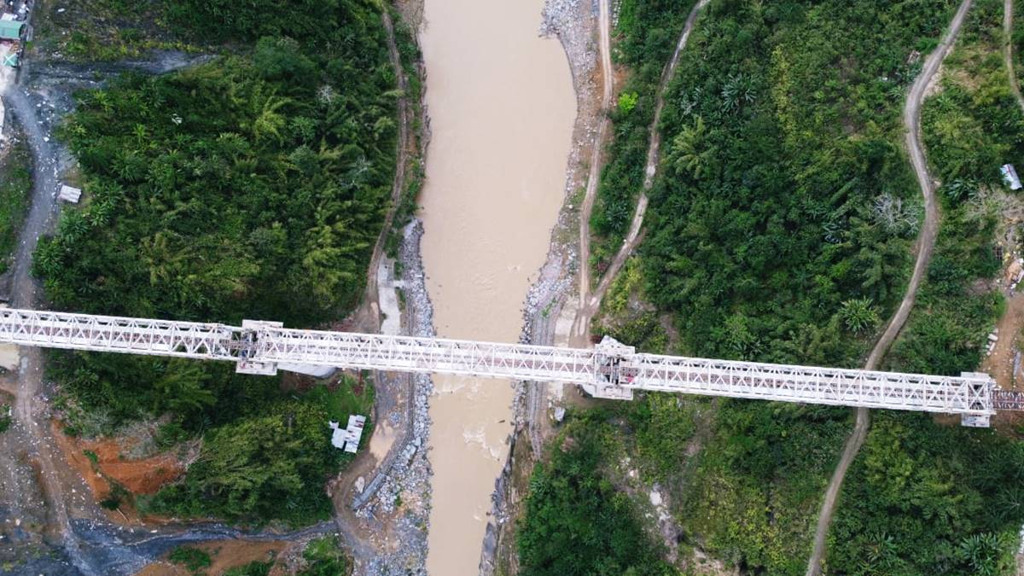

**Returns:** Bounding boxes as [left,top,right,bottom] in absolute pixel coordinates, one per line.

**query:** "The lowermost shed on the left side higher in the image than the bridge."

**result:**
[59,185,85,204]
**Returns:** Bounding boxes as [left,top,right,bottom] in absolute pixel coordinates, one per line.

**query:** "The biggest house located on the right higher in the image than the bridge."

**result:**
[995,164,1021,192]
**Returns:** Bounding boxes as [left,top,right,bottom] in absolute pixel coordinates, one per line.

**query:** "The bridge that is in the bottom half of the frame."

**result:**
[0,308,1024,429]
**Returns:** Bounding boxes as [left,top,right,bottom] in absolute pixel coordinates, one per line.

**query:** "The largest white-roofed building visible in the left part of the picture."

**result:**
[330,415,368,453]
